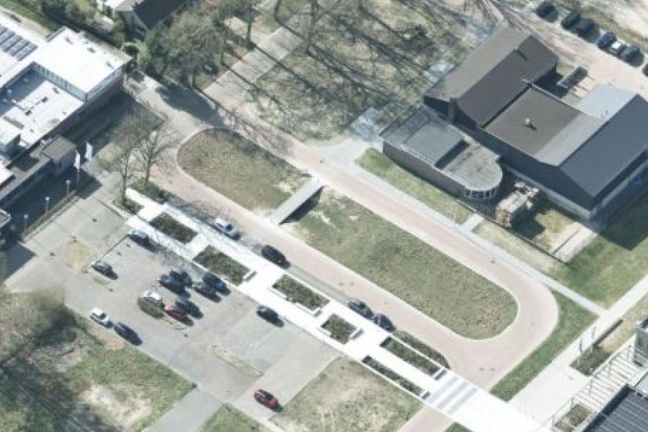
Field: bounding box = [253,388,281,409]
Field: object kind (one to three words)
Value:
car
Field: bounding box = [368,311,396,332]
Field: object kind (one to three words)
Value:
car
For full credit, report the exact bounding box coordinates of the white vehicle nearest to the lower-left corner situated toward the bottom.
[85,305,112,327]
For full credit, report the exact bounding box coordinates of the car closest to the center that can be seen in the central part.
[259,243,288,266]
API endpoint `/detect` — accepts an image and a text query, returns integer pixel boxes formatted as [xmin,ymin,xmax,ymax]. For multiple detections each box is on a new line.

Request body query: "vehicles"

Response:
[112,321,142,343]
[85,305,112,327]
[559,10,582,31]
[156,270,185,292]
[259,243,288,266]
[163,299,189,321]
[619,42,642,62]
[253,388,281,409]
[596,30,617,50]
[574,15,596,36]
[189,278,219,300]
[88,256,117,280]
[201,269,230,292]
[608,37,628,55]
[167,266,194,286]
[213,217,239,237]
[368,311,396,332]
[536,0,557,20]
[642,64,648,76]
[125,226,154,247]
[255,304,282,325]
[174,296,203,318]
[345,296,374,319]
